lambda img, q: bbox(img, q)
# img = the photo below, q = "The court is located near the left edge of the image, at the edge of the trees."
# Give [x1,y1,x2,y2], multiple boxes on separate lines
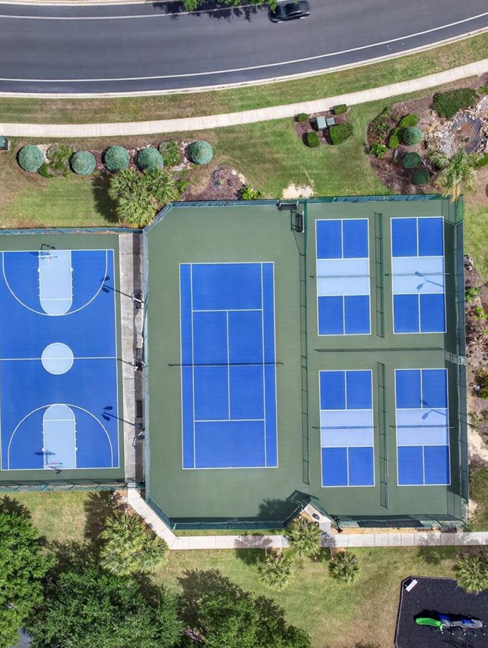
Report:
[0,236,126,478]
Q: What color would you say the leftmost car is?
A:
black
